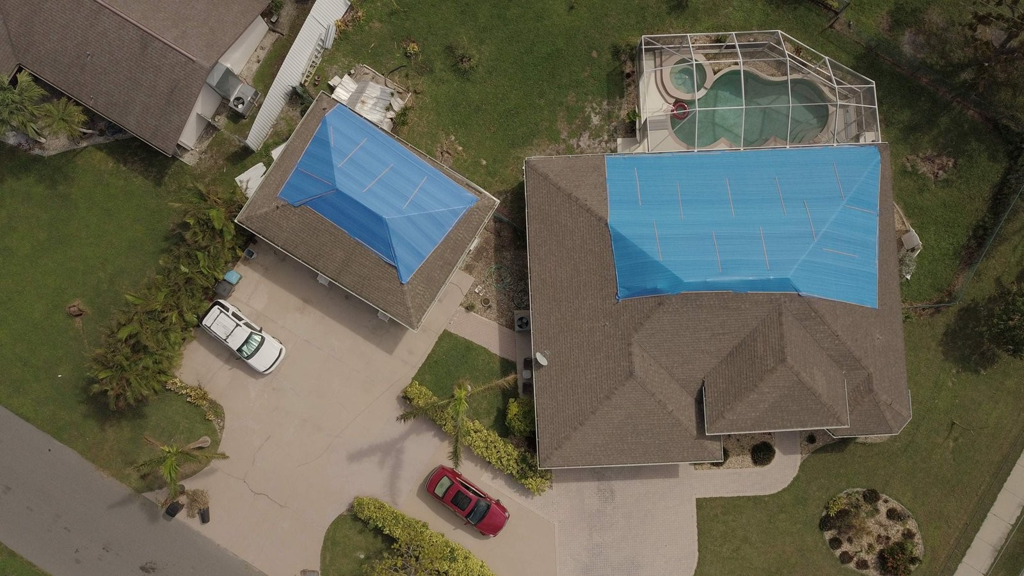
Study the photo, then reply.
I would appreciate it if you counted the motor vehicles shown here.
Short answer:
2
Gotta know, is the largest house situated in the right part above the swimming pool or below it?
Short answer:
below it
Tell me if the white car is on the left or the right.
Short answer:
left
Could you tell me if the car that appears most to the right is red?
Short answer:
Yes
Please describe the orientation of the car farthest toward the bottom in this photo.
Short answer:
on a diagonal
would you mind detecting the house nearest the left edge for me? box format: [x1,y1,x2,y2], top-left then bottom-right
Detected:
[0,0,270,158]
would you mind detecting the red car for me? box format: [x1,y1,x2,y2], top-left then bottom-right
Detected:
[425,465,508,535]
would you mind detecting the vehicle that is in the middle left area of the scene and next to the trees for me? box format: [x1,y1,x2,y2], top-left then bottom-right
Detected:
[199,300,288,375]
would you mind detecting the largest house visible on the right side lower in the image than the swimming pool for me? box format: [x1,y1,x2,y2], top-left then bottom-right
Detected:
[522,141,914,471]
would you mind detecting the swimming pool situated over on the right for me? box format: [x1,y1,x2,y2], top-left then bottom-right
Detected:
[656,45,835,149]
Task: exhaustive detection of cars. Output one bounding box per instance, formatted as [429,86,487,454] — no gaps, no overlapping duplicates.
[199,300,288,375]
[425,465,508,535]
